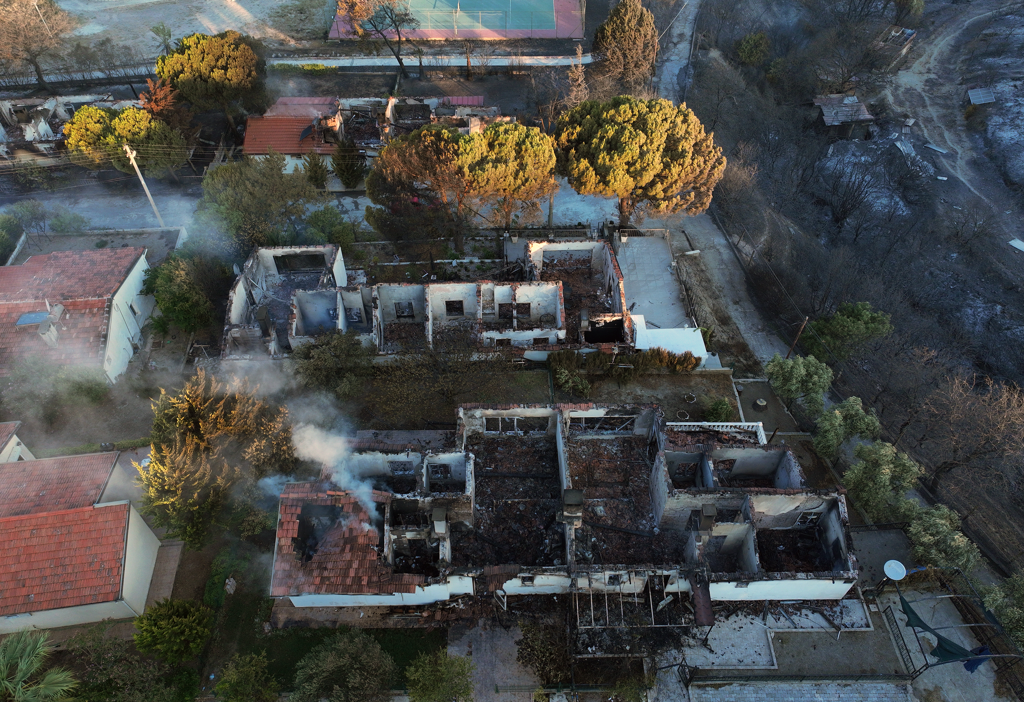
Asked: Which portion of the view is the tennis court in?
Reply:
top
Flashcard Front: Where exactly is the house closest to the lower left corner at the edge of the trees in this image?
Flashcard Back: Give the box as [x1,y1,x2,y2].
[0,446,164,617]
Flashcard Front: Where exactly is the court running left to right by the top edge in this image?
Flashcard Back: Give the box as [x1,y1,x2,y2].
[327,0,585,40]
